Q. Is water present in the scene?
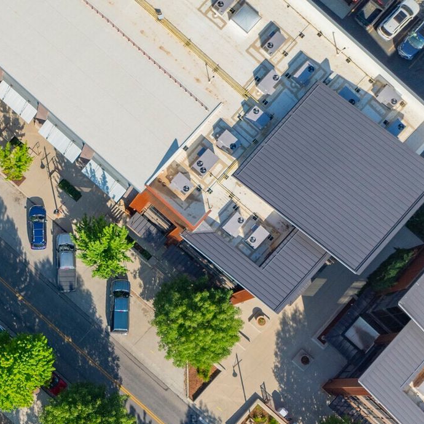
No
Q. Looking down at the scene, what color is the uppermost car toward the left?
blue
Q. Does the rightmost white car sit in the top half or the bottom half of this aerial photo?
top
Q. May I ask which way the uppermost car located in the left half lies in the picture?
up and down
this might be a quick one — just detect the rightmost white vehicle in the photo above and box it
[379,0,422,40]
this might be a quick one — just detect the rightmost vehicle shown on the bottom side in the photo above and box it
[112,280,134,334]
